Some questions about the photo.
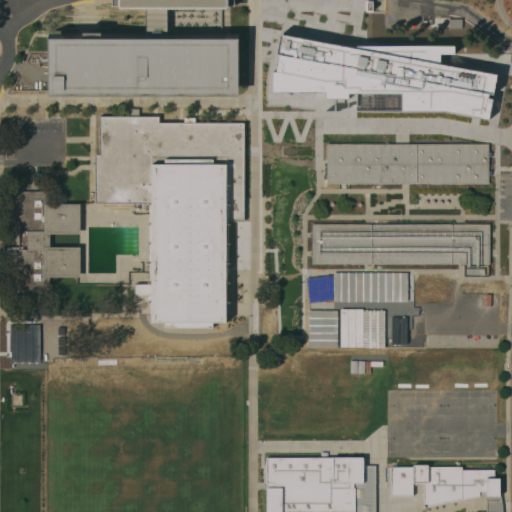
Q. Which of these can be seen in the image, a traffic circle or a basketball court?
basketball court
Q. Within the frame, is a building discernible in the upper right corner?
Yes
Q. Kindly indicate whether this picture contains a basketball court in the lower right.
Yes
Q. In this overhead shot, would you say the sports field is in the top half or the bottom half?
bottom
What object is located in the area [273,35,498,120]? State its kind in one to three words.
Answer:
building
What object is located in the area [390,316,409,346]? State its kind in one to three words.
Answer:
barn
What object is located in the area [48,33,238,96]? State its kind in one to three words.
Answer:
building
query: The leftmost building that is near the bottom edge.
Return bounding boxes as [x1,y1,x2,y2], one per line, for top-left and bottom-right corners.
[267,452,377,512]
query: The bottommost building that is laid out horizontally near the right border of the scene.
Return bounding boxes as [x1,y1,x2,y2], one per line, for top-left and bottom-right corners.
[392,464,503,512]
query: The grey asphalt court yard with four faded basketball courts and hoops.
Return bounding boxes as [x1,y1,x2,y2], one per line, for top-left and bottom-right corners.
[388,390,497,458]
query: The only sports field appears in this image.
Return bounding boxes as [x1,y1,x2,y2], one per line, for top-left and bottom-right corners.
[48,357,249,512]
